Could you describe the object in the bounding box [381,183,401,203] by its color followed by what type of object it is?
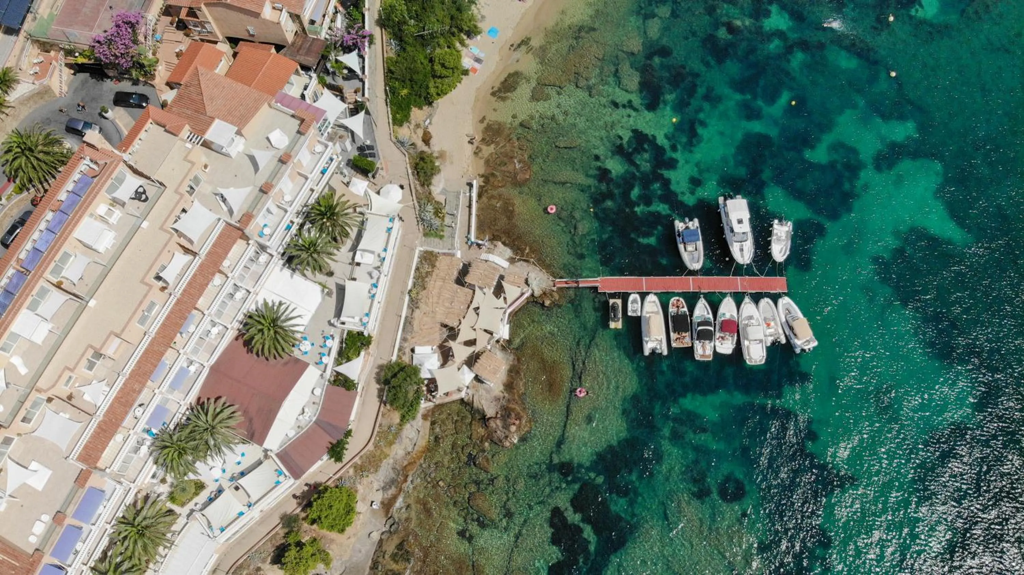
white umbrella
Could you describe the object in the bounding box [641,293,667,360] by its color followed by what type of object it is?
white boat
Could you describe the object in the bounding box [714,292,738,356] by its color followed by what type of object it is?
white boat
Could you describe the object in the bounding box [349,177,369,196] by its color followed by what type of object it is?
white umbrella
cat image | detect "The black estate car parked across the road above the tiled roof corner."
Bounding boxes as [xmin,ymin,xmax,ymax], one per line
[110,90,152,110]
